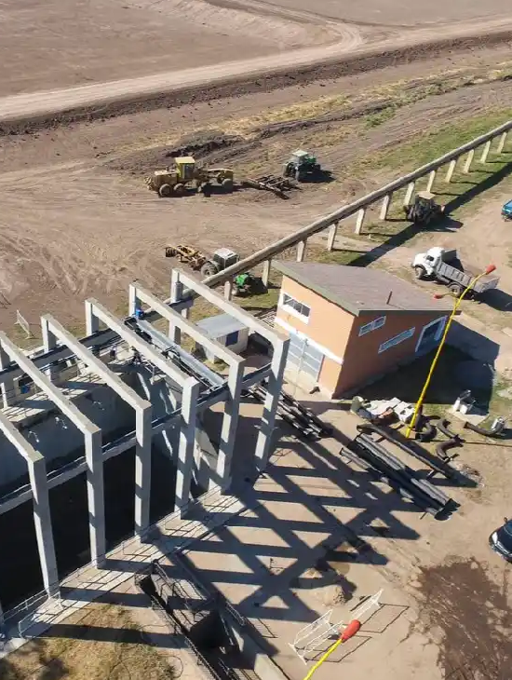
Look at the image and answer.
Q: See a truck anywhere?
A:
Yes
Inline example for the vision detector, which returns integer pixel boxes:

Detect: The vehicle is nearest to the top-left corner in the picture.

[146,155,227,194]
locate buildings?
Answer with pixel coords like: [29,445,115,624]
[194,311,252,365]
[270,261,456,399]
